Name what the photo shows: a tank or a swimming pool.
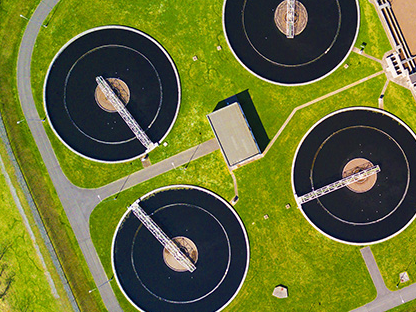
tank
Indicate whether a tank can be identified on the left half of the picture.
Yes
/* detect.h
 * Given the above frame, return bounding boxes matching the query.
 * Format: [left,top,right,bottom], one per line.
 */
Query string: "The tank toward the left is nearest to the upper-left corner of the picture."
[44,25,182,163]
